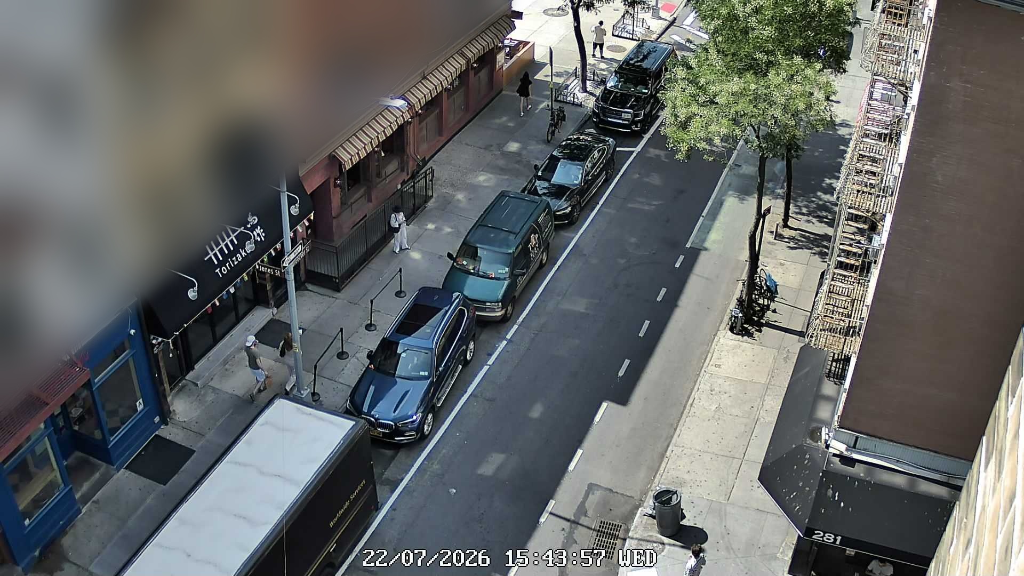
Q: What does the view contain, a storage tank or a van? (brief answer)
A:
van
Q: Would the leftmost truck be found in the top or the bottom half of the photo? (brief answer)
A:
bottom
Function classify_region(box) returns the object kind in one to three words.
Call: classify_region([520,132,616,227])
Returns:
car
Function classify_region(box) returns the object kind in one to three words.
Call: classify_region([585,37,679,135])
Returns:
car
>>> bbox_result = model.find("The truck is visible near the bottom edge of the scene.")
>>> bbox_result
[117,391,376,576]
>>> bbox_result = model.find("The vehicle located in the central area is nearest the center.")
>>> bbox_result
[438,186,559,326]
